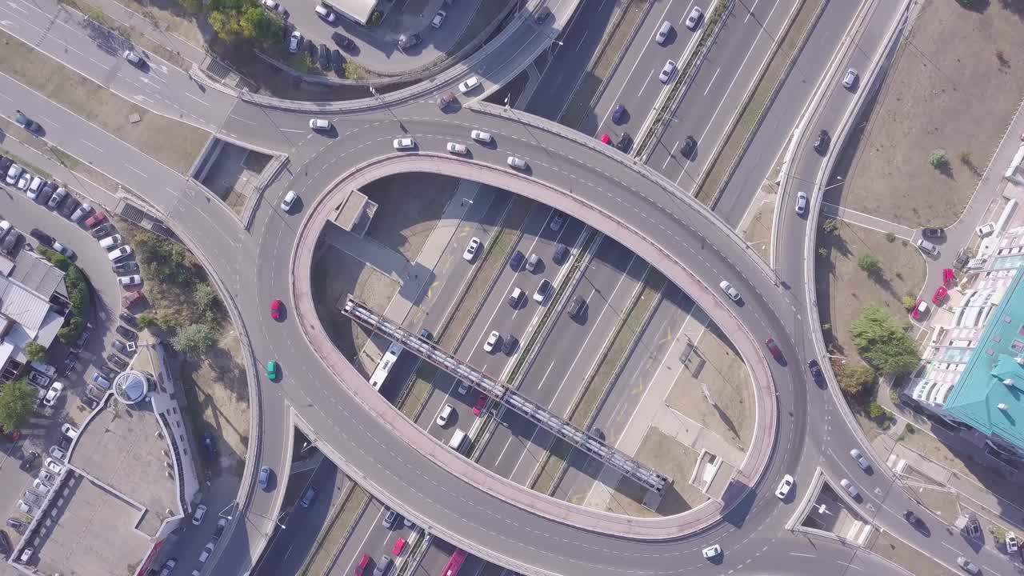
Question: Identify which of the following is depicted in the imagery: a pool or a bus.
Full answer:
The one in the frame is a bus.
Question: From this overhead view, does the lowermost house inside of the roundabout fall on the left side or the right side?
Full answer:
You can find the lowermost house inside of the roundabout on the right side of the picture.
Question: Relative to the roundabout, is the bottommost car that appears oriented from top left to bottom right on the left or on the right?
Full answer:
Looking at the photo, the bottommost car that appears oriented from top left to bottom right lies to the right of the roundabout.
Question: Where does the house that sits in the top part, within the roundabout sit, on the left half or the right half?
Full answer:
It is on the left.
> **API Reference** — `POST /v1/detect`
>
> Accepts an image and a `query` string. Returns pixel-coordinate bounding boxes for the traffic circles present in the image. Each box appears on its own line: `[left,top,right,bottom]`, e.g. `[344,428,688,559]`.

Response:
[251,97,818,576]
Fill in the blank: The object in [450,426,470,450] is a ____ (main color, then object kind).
white vehicle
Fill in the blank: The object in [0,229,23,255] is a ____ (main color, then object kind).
gray car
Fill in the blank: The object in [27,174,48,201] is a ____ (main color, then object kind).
white car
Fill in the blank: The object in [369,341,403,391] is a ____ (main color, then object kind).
white bus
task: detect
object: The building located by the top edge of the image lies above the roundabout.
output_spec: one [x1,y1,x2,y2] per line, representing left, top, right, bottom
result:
[322,0,388,34]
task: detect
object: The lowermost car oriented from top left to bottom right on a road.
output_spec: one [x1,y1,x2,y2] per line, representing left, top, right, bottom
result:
[954,555,980,576]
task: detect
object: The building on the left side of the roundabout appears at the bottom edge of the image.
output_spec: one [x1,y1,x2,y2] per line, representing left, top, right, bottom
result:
[0,392,209,576]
